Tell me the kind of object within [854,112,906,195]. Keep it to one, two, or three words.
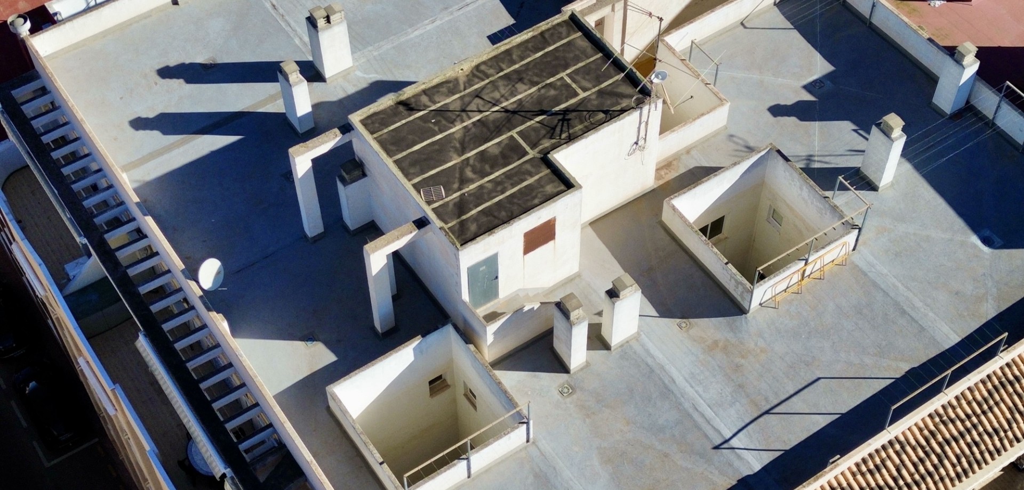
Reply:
chimney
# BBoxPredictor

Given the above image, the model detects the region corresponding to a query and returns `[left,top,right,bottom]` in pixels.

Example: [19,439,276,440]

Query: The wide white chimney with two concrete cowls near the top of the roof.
[306,0,358,86]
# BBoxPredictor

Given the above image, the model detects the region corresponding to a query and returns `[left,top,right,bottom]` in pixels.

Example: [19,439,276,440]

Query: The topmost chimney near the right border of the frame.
[926,41,979,122]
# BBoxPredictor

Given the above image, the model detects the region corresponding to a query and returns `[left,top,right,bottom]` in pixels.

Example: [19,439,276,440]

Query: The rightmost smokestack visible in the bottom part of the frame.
[595,272,643,355]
